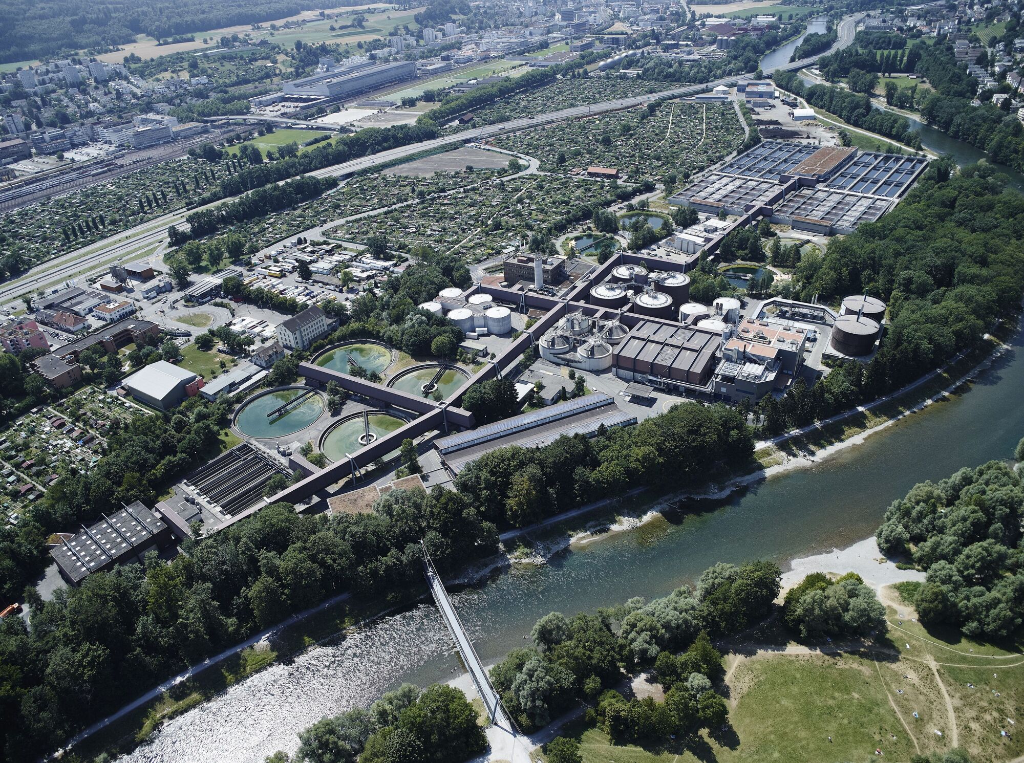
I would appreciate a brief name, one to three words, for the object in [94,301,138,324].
house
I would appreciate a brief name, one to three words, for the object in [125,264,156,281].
building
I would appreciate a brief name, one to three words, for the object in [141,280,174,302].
building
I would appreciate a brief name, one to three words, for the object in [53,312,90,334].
house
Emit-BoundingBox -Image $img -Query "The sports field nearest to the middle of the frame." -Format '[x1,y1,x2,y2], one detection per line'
[381,148,527,176]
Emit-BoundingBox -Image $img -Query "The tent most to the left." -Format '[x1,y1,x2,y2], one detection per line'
[785,106,819,119]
